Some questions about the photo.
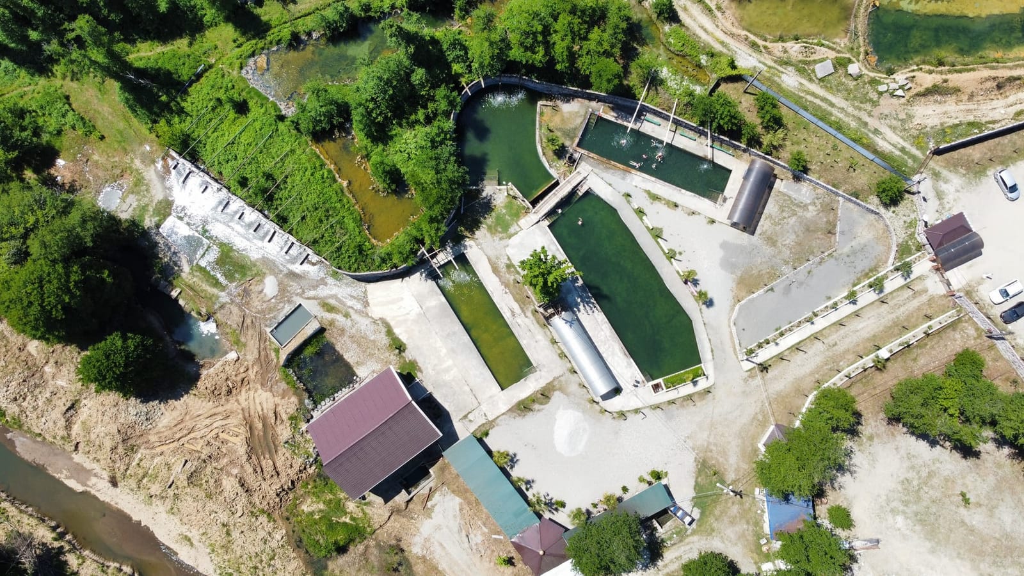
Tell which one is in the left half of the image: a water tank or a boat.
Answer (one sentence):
Looking in the left half of the image, you will find a water tank.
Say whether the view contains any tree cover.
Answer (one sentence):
Yes, some tree cover is visible.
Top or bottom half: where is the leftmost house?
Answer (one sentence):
You can find the leftmost house in the bottom half.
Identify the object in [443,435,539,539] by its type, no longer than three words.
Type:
shed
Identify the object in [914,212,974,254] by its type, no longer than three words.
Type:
house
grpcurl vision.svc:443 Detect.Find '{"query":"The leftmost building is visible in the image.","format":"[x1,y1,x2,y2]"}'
[307,367,444,499]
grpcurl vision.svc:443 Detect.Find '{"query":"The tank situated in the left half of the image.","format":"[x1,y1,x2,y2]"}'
[266,301,322,367]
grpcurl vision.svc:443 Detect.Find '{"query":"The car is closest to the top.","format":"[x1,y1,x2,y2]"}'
[994,170,1018,200]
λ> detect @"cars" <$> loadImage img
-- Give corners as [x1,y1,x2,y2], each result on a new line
[998,302,1024,324]
[988,281,1023,304]
[994,170,1018,200]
